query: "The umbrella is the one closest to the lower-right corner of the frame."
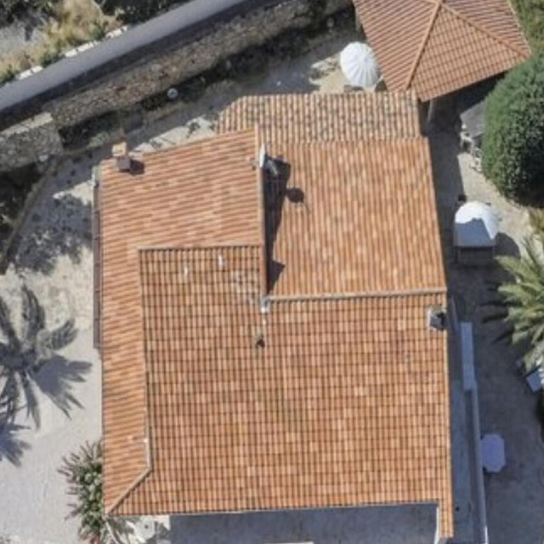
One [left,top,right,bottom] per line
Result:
[477,437,509,470]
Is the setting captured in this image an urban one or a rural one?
urban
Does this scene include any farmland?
No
